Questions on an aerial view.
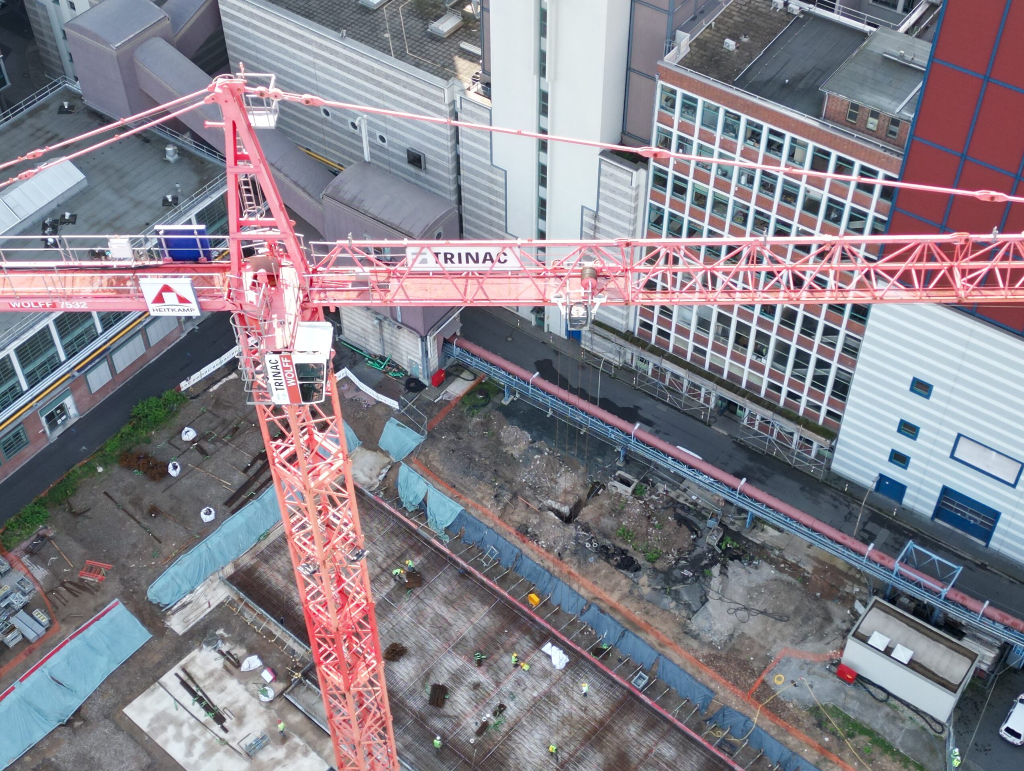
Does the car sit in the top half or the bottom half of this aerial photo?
bottom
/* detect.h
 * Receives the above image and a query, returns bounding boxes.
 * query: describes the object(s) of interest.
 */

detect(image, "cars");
[999,683,1024,743]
